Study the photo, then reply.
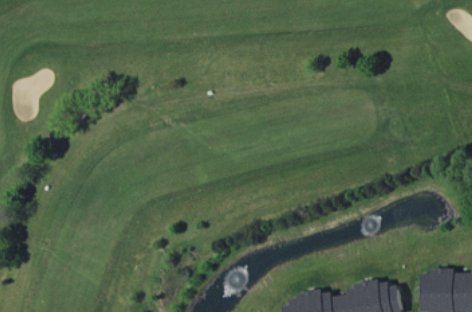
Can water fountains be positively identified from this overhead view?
Yes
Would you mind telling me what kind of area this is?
golf course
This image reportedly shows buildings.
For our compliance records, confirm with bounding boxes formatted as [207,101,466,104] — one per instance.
[282,278,404,312]
[420,268,472,312]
